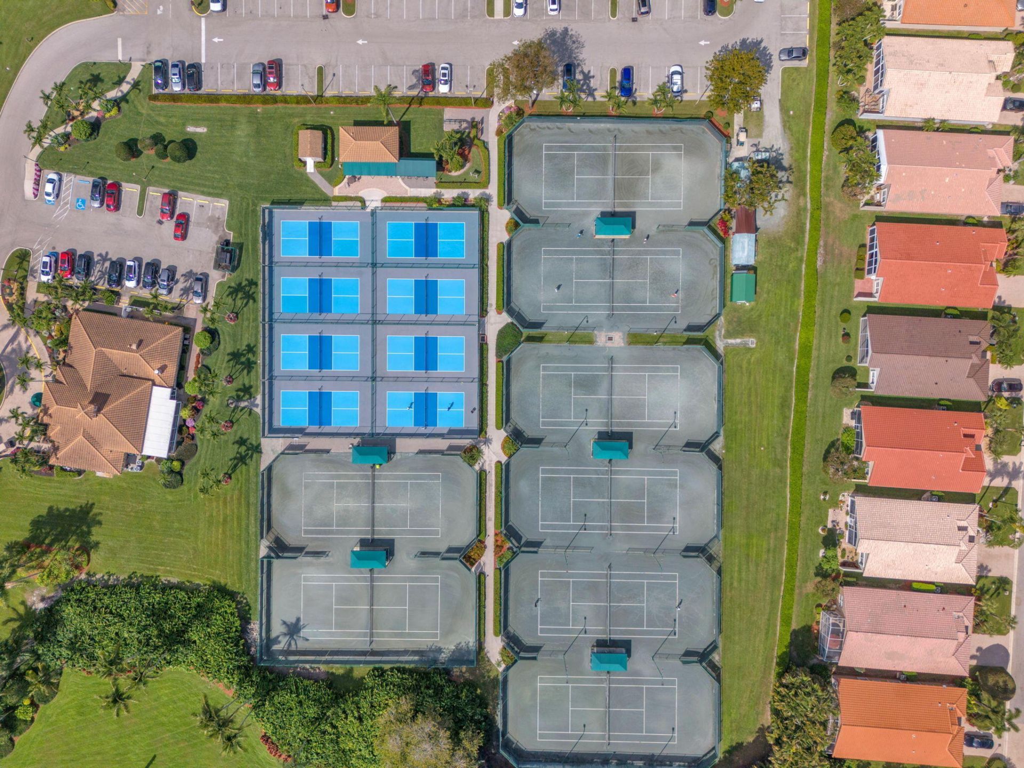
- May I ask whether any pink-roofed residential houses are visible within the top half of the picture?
Yes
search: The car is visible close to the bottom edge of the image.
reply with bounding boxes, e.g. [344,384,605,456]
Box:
[963,733,994,748]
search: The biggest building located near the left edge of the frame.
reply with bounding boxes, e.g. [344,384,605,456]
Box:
[32,310,188,477]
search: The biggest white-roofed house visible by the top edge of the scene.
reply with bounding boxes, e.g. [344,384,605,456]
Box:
[848,36,1016,124]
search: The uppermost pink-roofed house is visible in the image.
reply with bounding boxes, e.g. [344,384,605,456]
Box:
[849,130,1015,217]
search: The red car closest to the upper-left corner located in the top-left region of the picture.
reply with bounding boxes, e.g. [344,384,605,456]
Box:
[106,183,121,211]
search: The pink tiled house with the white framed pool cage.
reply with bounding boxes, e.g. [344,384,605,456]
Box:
[803,584,976,676]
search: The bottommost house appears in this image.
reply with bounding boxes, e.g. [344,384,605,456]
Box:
[822,674,968,768]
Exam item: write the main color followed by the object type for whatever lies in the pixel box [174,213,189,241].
red car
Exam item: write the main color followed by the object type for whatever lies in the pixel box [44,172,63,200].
white car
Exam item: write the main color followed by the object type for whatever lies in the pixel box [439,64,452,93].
white vehicle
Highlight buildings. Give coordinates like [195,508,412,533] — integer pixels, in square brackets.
[299,128,326,176]
[729,234,756,266]
[727,273,756,304]
[849,130,1015,217]
[339,126,437,180]
[848,36,1016,124]
[868,0,1011,31]
[817,497,980,584]
[803,584,976,676]
[846,314,989,400]
[841,222,1006,307]
[839,406,985,492]
[822,674,968,768]
[32,310,188,477]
